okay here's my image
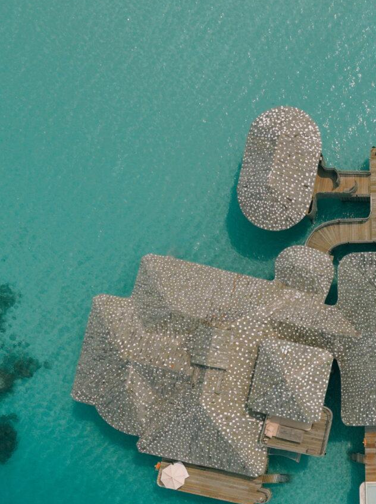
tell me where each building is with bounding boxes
[237,107,321,231]
[73,252,362,479]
